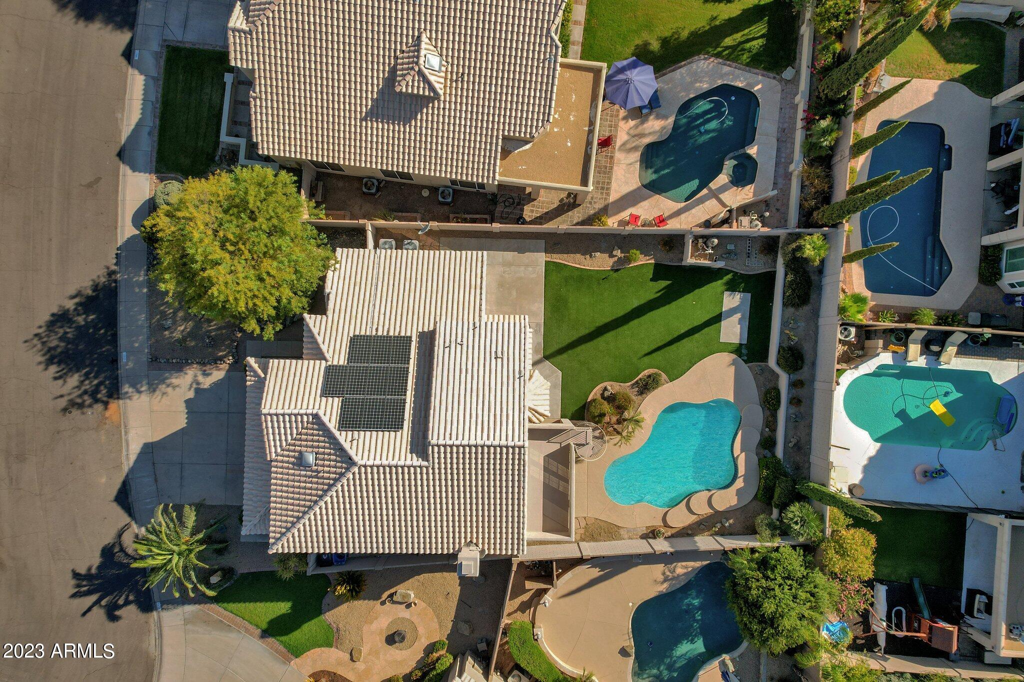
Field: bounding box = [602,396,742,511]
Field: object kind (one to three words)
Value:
swimming pool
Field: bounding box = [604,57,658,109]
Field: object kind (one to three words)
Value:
umbrella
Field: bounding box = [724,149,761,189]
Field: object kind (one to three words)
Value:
swimming pool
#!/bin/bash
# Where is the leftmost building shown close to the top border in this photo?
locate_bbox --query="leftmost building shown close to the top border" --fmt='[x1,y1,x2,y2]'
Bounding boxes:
[228,0,606,207]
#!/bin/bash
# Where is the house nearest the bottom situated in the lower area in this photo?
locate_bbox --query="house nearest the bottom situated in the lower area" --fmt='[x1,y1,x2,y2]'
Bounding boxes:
[455,637,490,682]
